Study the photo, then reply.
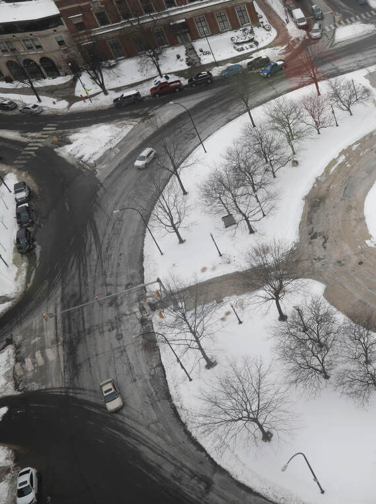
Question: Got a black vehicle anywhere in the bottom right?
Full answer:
No, there's no black vehicle to be seen in the bottom right.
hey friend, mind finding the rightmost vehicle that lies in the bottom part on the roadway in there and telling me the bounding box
[96,377,122,411]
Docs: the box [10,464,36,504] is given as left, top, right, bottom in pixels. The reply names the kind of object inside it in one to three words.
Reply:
car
